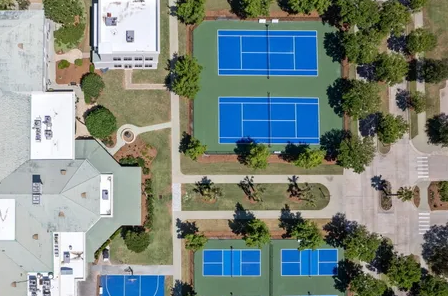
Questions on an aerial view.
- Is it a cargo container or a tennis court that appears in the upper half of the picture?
tennis court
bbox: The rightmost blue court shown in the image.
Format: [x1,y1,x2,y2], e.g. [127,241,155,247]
[281,250,337,277]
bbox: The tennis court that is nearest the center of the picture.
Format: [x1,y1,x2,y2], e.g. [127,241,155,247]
[219,92,319,147]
